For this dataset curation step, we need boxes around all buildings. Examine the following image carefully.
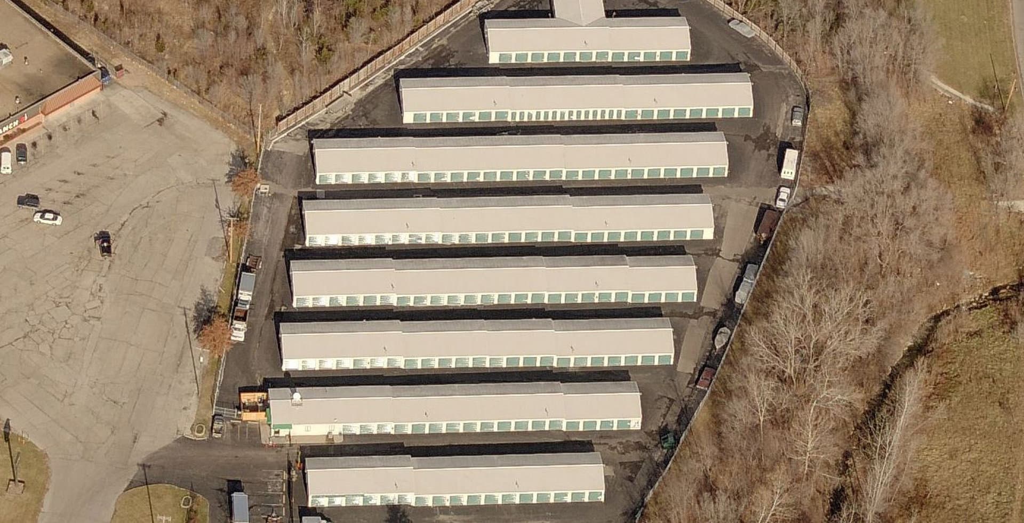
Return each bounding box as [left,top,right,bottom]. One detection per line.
[0,0,108,157]
[305,452,606,507]
[264,381,643,436]
[303,193,715,246]
[399,72,755,122]
[279,318,675,371]
[313,131,729,183]
[485,0,691,63]
[290,255,698,307]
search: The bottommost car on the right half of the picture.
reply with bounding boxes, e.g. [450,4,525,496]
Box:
[661,430,676,451]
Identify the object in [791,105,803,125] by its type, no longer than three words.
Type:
vehicle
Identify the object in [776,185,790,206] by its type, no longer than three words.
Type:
car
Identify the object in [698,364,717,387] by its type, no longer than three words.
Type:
vehicle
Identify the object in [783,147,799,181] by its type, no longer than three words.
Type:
camper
